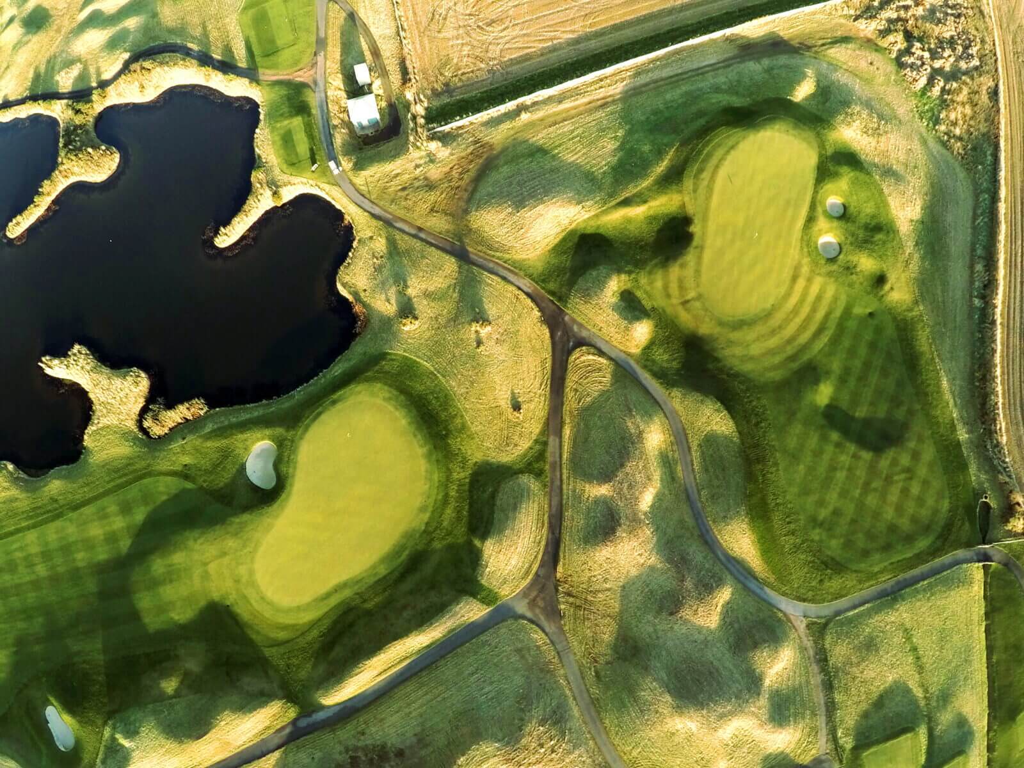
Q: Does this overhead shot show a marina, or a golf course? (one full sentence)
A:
This image shows a golf course.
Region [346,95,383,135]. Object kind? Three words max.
shed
